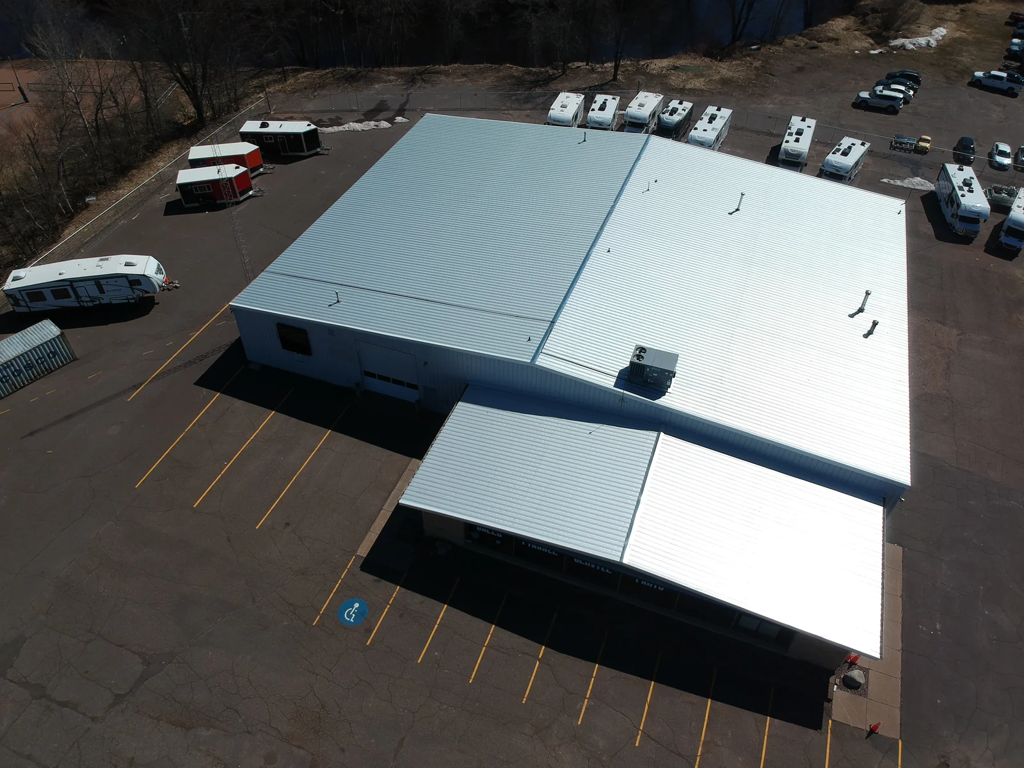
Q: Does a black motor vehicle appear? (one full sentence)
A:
Yes, the image includes a black motor vehicle.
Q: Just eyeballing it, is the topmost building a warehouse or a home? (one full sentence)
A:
In the photo, the topmost building shows up as a warehouse.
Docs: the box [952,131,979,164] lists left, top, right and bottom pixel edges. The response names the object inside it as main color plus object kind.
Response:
black car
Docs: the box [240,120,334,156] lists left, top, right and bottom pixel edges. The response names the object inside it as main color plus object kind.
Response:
black trailer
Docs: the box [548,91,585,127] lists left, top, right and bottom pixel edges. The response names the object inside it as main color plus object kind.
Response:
white camper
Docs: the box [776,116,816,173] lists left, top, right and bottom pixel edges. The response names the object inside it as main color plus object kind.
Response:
white camper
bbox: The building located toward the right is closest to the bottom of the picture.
[396,381,885,669]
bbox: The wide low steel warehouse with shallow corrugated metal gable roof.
[228,113,916,522]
